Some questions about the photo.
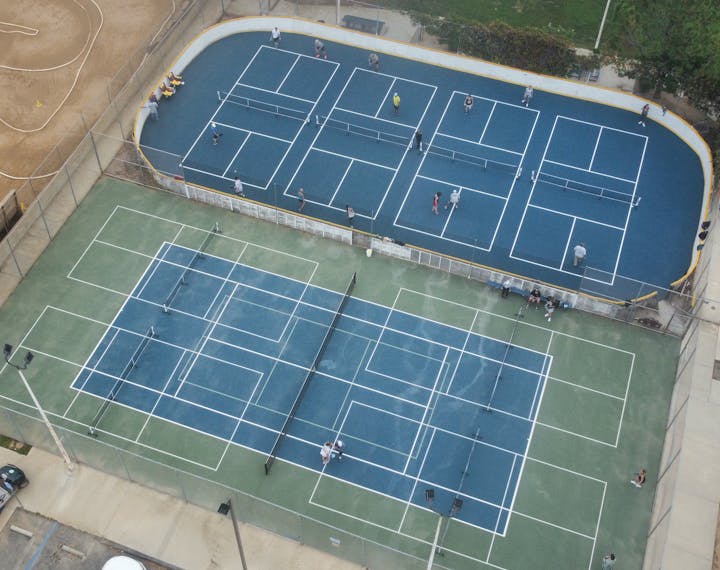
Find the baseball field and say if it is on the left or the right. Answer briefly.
left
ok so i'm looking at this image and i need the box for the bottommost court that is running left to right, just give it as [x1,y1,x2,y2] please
[310,401,606,570]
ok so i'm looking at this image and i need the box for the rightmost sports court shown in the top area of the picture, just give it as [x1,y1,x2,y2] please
[509,115,648,285]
